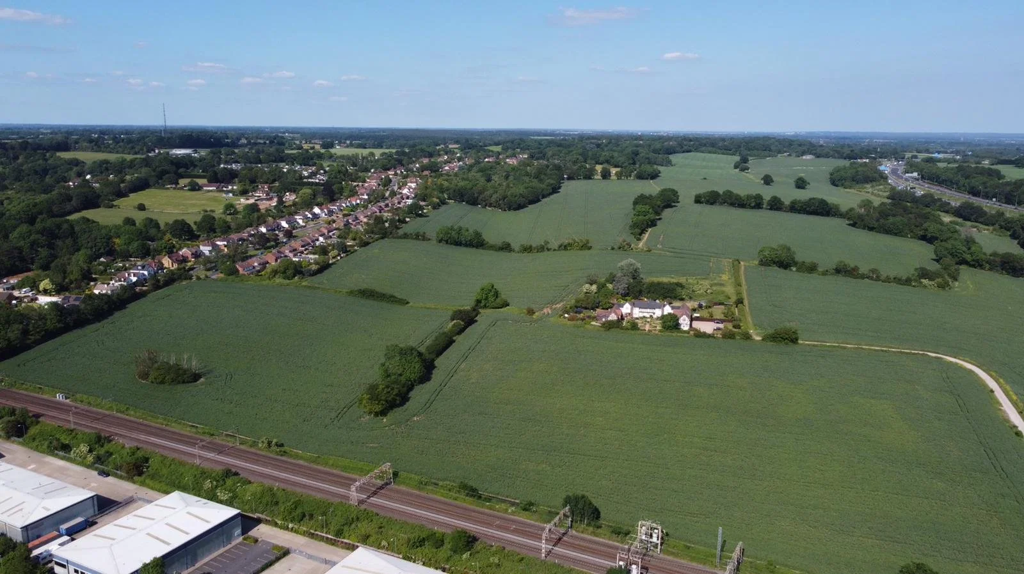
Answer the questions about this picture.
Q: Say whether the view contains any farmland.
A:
Yes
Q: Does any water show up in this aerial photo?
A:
No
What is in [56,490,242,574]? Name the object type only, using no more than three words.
building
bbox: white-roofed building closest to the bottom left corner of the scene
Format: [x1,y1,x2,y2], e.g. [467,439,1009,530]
[0,448,98,541]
